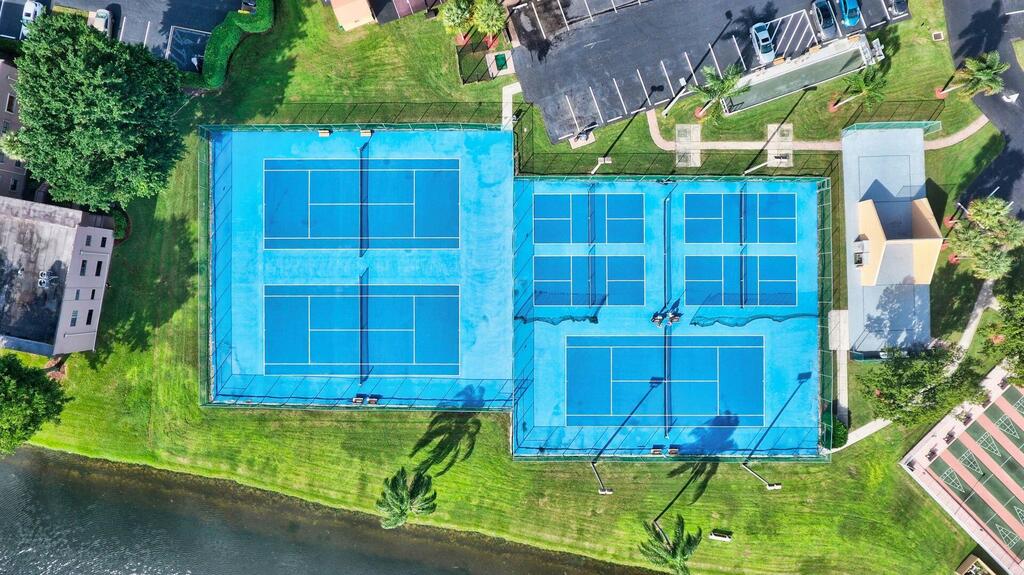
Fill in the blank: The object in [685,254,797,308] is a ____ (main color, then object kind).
blue sports court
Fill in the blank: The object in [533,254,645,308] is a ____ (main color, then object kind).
blue sports court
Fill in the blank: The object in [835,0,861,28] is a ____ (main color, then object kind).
blue car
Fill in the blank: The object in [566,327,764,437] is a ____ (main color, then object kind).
blue tennis court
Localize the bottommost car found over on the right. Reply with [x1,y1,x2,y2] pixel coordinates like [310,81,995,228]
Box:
[748,23,774,66]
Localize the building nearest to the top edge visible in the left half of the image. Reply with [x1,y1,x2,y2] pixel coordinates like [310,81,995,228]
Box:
[330,0,375,31]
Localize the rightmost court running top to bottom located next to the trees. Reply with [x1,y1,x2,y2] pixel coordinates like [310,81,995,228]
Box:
[842,125,951,351]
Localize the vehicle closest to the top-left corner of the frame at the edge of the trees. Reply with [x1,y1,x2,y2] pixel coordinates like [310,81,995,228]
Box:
[18,0,45,38]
